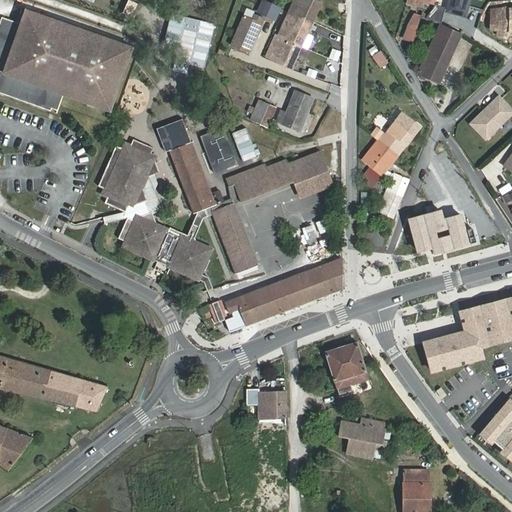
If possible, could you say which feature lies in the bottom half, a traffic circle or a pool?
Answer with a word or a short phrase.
traffic circle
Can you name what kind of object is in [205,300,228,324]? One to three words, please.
building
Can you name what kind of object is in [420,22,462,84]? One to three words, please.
barn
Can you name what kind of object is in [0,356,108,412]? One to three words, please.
house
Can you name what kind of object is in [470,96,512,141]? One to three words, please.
house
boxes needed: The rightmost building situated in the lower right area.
[480,398,512,462]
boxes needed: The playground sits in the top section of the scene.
[122,79,149,115]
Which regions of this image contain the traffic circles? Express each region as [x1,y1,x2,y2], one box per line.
[154,346,228,419]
